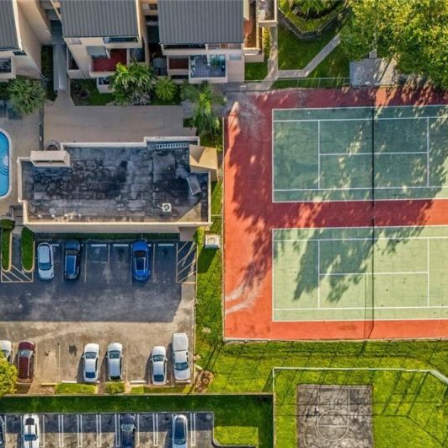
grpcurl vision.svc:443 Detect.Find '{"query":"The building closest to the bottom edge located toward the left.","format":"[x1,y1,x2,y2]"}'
[17,136,217,241]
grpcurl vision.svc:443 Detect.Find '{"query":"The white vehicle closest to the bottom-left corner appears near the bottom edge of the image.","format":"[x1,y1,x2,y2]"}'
[21,413,40,448]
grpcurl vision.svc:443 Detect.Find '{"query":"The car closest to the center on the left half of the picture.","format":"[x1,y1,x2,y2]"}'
[131,241,150,284]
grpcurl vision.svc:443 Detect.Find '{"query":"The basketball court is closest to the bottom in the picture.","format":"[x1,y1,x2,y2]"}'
[297,386,373,448]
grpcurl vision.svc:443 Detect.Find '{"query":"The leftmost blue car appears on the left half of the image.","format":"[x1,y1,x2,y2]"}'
[35,241,55,280]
